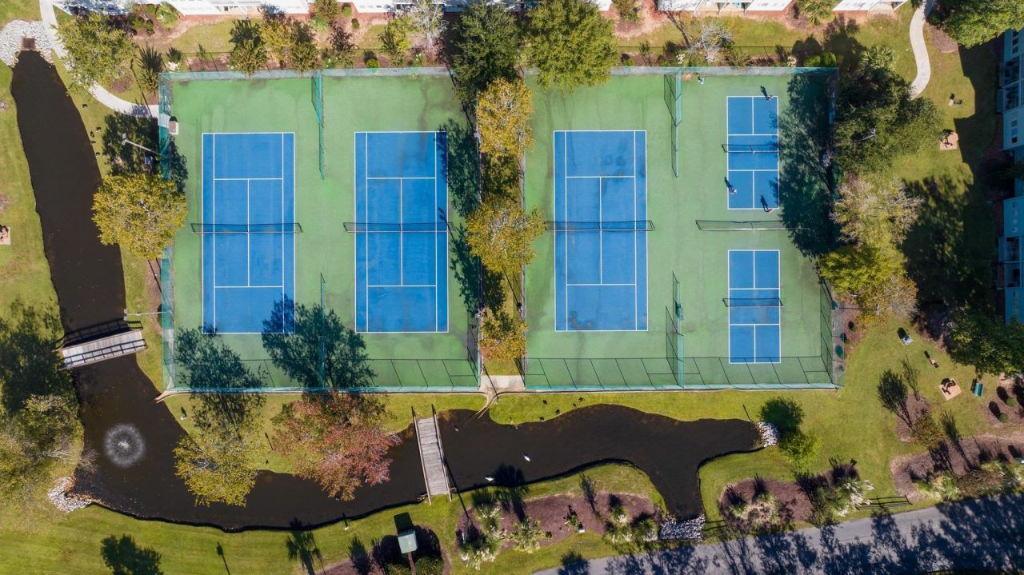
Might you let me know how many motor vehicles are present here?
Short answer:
0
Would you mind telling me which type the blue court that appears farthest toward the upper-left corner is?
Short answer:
tennis court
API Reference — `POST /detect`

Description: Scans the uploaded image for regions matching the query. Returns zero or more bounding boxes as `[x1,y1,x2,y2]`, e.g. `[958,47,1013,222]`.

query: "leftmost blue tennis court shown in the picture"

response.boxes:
[202,133,295,333]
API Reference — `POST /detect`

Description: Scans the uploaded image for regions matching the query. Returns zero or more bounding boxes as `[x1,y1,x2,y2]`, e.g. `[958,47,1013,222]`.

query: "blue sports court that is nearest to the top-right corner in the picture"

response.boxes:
[727,96,779,209]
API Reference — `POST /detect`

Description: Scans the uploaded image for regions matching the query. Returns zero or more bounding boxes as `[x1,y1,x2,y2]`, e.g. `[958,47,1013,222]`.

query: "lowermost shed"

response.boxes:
[397,528,418,553]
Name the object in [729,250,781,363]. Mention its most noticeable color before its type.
blue sports court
